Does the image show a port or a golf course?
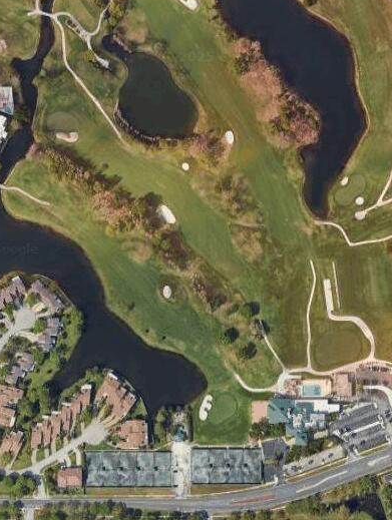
golf course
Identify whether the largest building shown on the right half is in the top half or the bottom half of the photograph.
bottom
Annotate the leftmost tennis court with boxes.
[85,452,103,487]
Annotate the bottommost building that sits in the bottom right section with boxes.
[267,398,340,445]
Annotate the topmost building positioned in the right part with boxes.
[336,375,351,398]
